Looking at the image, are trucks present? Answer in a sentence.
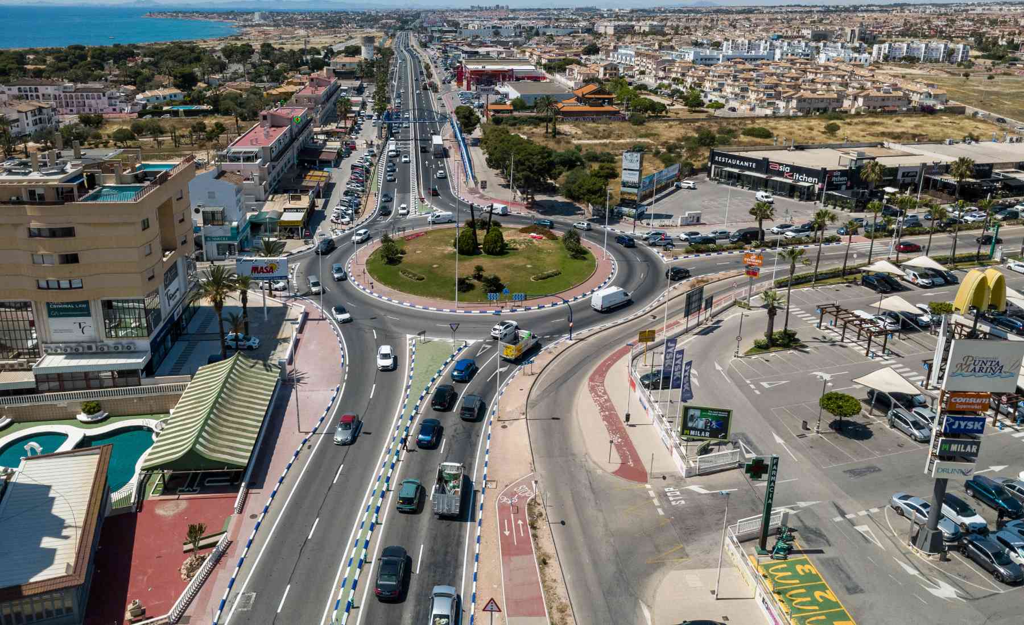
Yes, there is a truck in the image.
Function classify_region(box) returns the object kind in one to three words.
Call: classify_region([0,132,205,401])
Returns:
building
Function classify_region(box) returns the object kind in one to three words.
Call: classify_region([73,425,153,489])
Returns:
swimming pool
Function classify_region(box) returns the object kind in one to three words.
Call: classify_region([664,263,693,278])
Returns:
car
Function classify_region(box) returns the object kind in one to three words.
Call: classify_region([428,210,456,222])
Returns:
vehicle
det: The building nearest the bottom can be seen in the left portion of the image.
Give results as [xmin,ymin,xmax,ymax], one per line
[0,446,113,625]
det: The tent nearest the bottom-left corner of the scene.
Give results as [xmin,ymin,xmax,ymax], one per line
[140,353,282,502]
